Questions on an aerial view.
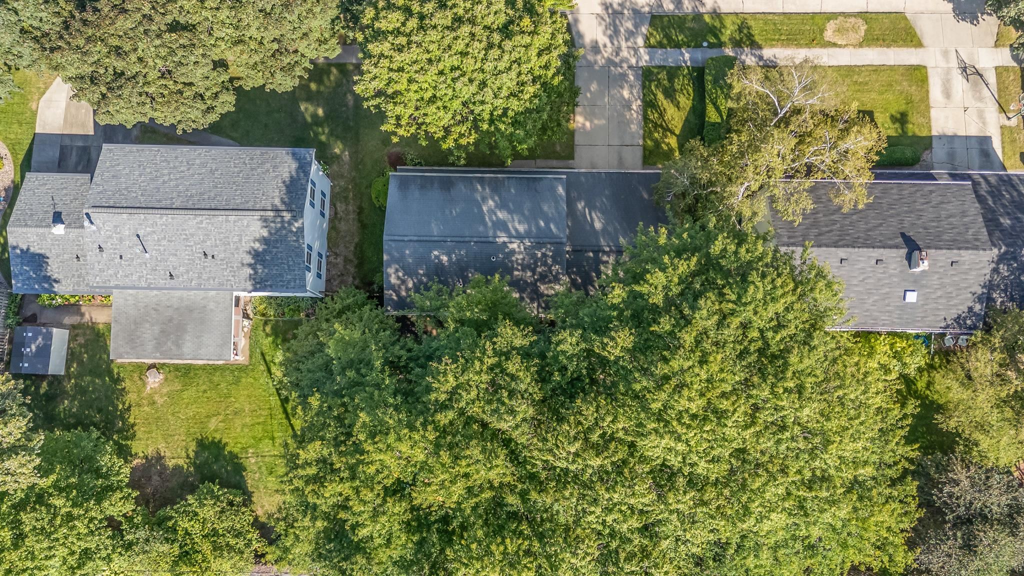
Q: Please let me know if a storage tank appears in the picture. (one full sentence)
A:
No, there is no storage tank in the image.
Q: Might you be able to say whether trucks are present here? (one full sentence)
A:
No, the frame has no truck in it.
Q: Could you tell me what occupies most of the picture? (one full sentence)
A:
Most of the picture is covered by trees.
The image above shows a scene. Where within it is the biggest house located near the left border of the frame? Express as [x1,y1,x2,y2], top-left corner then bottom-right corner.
[7,143,334,362]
